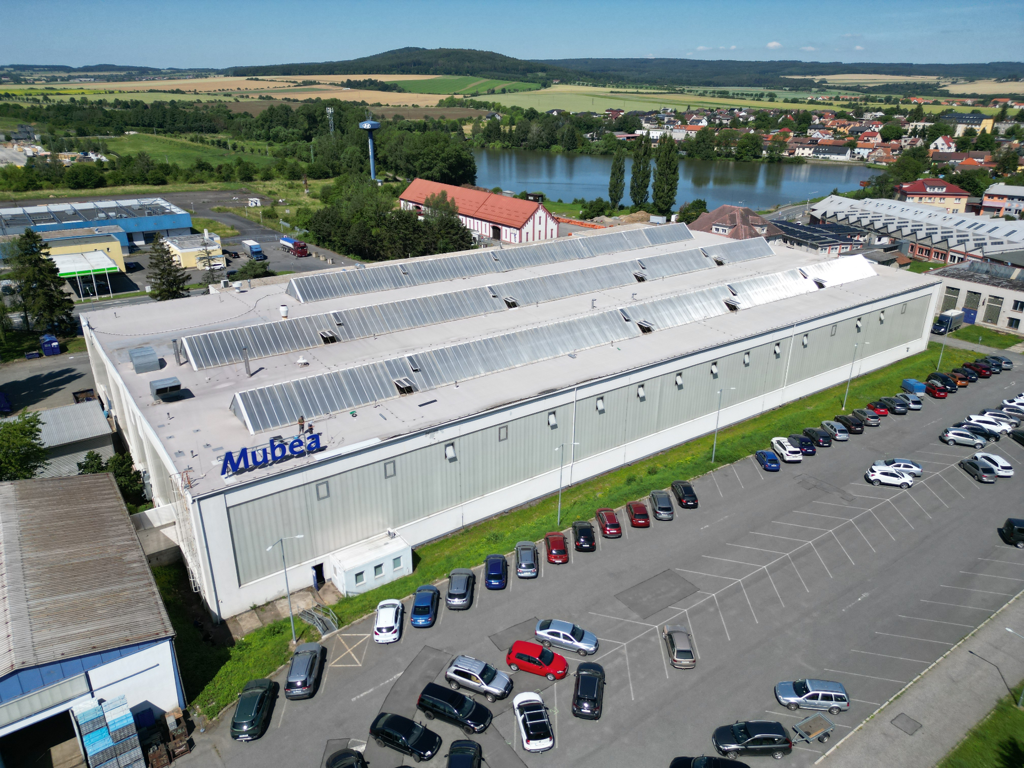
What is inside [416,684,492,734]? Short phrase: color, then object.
black car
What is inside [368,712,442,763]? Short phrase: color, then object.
black car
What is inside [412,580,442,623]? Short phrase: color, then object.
blue car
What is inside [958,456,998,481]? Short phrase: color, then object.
gray car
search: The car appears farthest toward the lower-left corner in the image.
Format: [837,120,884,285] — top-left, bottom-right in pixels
[231,674,283,738]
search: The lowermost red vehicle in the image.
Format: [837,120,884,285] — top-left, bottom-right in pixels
[503,640,568,680]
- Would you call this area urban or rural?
urban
